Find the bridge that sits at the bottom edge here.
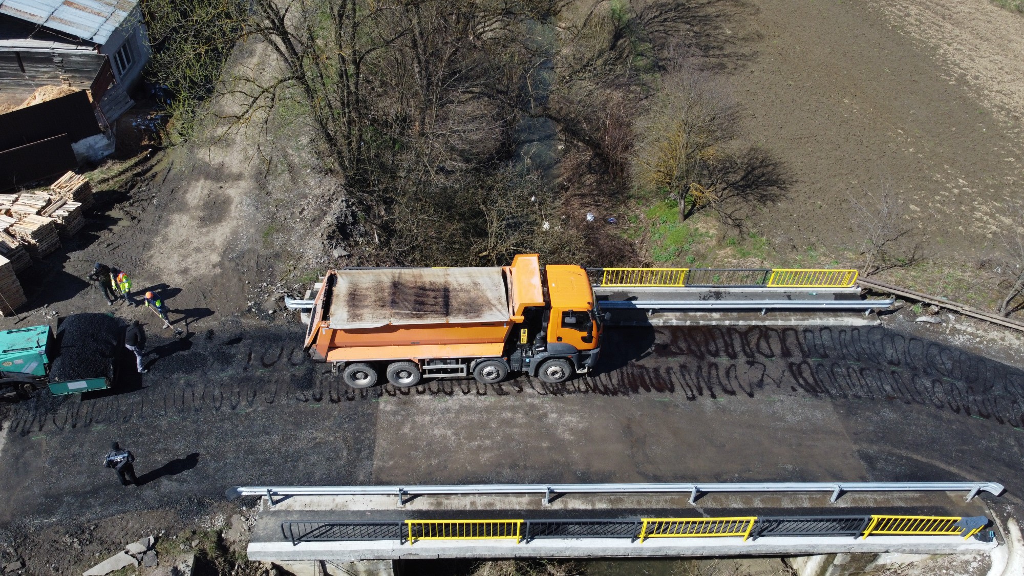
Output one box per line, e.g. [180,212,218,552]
[245,486,1015,576]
